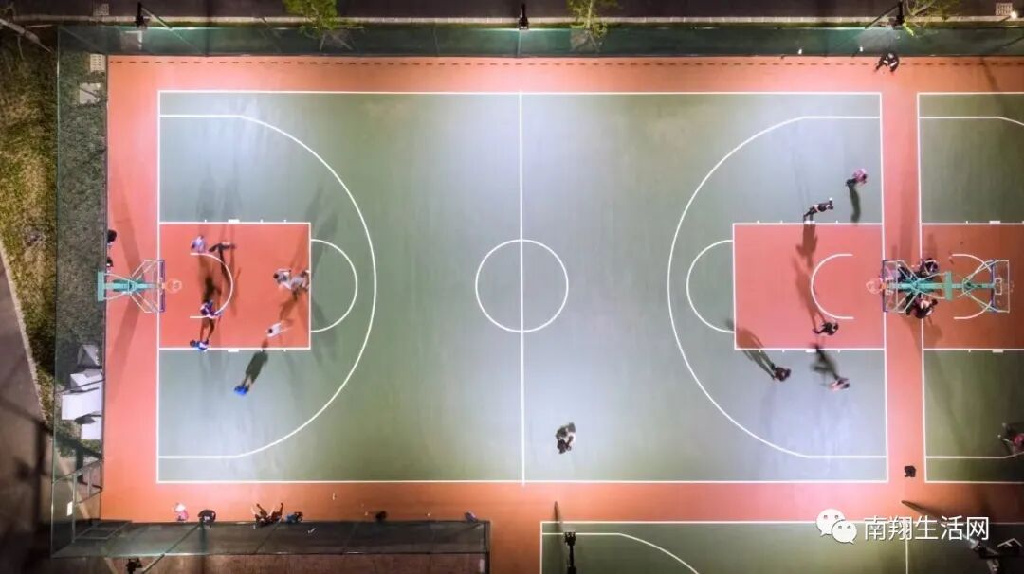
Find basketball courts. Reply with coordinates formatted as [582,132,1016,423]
[541,518,1024,574]
[919,93,1024,481]
[156,89,887,486]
